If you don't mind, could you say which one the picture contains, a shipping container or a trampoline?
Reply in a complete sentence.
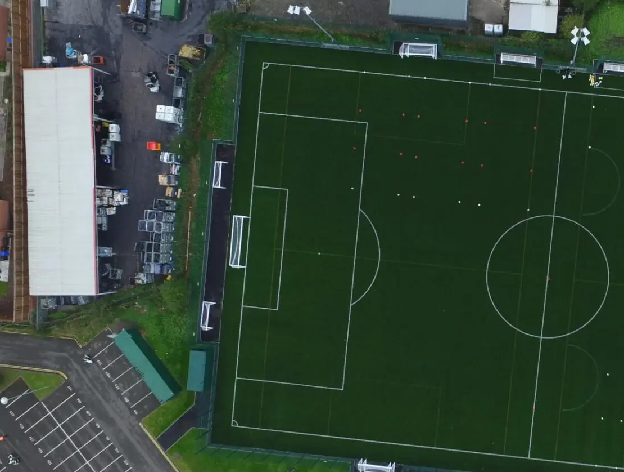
There is a shipping container in the scene.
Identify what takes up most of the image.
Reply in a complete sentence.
The scene is dominated by grass.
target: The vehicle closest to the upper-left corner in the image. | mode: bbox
[61,38,75,59]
